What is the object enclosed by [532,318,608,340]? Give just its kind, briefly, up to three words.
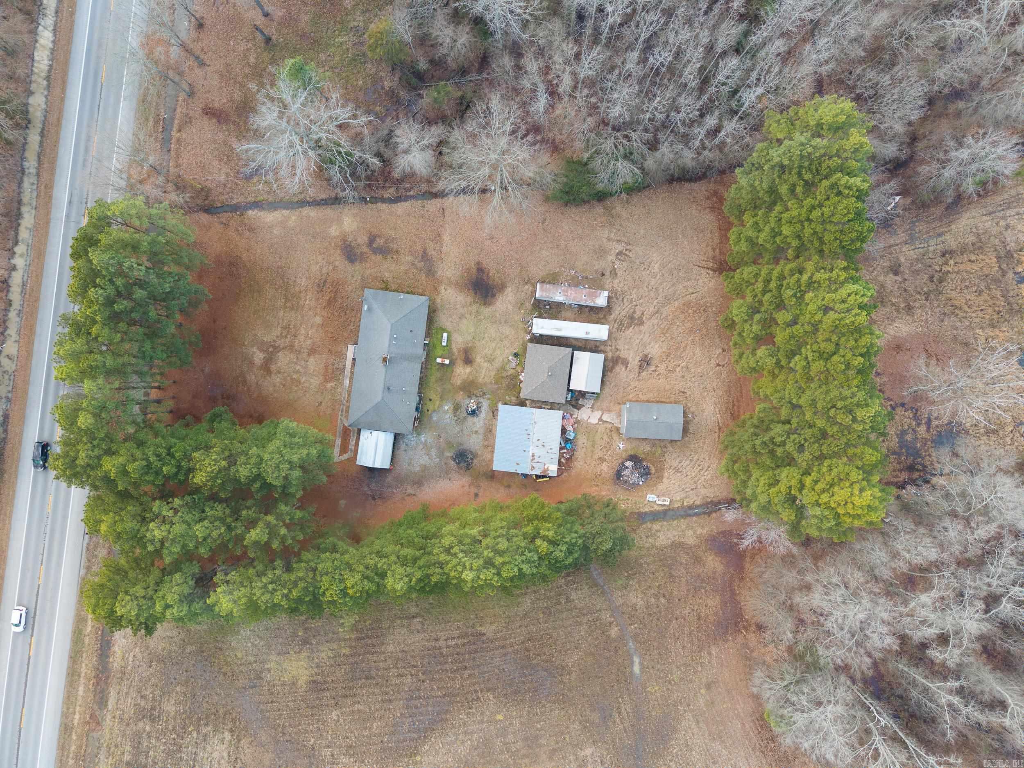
house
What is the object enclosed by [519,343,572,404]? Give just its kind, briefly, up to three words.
house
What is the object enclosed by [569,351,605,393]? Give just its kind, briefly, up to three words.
shed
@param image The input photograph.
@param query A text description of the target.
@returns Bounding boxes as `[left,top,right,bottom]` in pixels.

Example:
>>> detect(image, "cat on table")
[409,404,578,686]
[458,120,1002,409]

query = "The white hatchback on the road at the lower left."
[12,609,29,633]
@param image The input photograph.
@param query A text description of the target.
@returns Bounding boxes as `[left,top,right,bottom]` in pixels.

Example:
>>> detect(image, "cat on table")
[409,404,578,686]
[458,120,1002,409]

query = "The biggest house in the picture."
[348,288,430,435]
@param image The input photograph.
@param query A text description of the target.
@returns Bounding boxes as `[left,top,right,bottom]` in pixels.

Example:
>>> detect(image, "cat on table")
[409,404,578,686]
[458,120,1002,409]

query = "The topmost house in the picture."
[536,283,608,307]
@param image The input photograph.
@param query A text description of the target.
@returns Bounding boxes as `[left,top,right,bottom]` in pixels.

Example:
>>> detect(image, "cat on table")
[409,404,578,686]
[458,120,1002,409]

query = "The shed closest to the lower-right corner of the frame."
[620,402,683,440]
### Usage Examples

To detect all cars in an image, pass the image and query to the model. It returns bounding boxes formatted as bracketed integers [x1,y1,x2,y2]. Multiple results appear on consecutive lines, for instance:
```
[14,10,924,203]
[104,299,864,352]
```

[34,442,52,470]
[12,609,29,633]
